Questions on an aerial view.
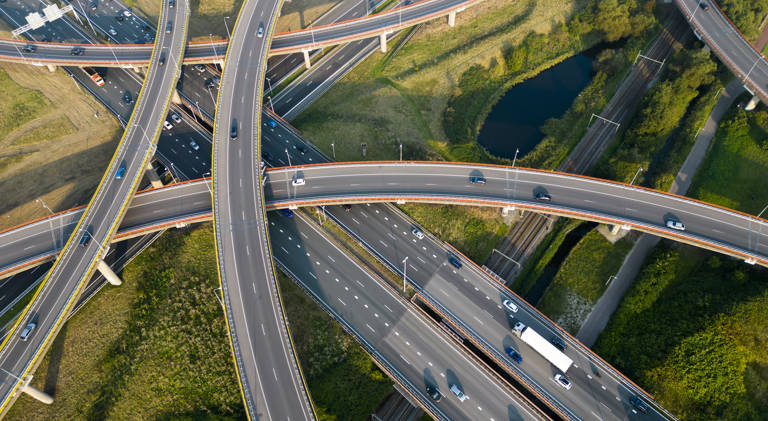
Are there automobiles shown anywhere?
Yes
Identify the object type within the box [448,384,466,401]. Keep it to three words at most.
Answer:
car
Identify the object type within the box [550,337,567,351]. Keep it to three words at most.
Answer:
car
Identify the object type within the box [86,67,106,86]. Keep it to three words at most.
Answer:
vehicle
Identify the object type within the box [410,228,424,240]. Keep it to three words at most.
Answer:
vehicle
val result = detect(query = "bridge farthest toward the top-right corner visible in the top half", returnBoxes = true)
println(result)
[674,0,768,106]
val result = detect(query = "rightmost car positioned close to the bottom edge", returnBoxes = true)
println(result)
[628,395,648,413]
